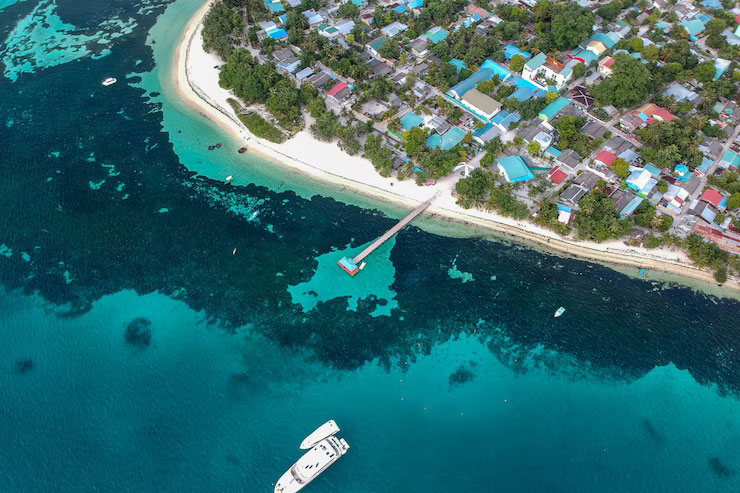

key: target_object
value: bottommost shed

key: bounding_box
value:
[337,256,360,280]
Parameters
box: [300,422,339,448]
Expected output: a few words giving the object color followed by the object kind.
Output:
white boat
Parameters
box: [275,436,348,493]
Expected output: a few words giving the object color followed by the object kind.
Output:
white boat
